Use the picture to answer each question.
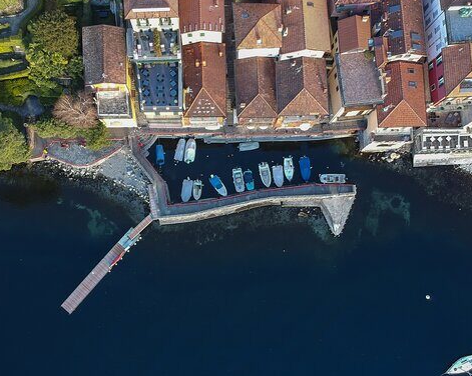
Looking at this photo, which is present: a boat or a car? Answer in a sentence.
The image shows a boat.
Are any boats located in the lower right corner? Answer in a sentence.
Yes, I can see a boat in the lower right corner.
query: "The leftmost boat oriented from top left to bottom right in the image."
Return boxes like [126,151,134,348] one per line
[210,176,226,196]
